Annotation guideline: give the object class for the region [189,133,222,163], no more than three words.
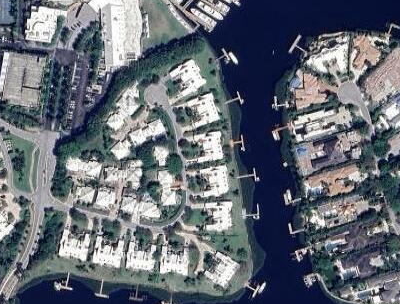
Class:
house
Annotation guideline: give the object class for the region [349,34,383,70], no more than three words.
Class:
house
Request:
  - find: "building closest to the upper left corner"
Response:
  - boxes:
[24,8,60,45]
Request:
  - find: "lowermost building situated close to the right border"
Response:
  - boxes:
[344,266,400,304]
